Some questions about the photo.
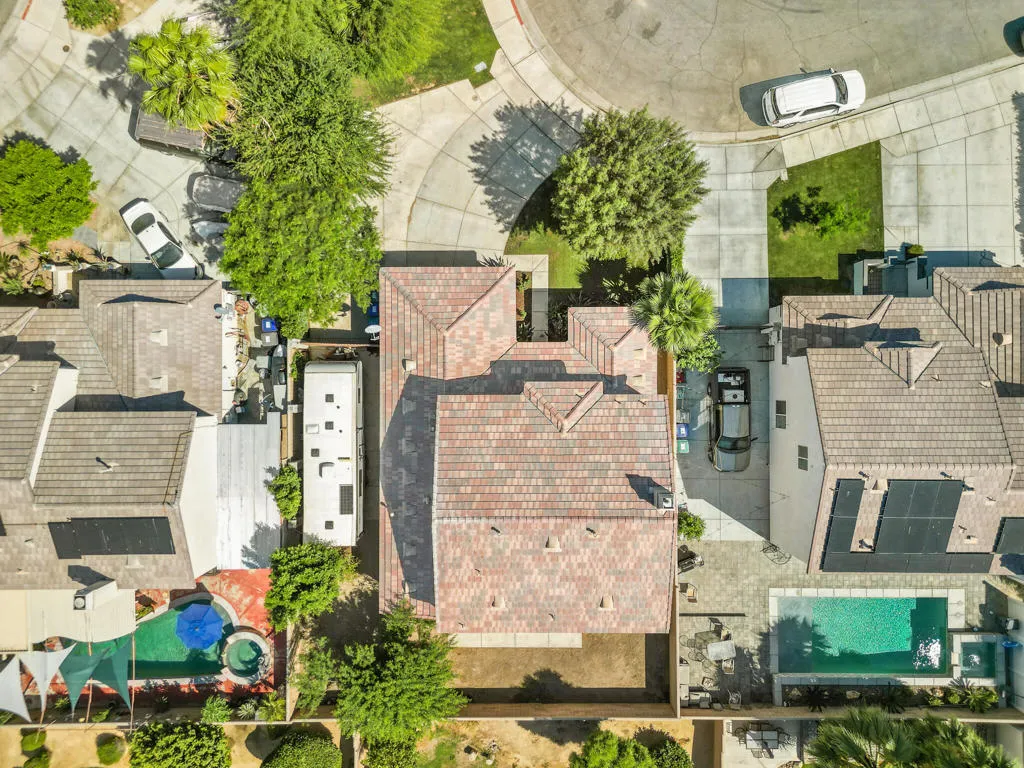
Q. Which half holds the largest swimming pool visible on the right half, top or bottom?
bottom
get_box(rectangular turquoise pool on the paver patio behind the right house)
[769,588,966,683]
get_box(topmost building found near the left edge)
[0,278,240,614]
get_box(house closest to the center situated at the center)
[379,265,679,633]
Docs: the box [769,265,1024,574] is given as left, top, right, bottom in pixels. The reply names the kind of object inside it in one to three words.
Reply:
house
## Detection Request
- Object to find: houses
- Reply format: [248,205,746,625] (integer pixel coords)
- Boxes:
[379,265,679,633]
[0,278,240,614]
[769,265,1024,574]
